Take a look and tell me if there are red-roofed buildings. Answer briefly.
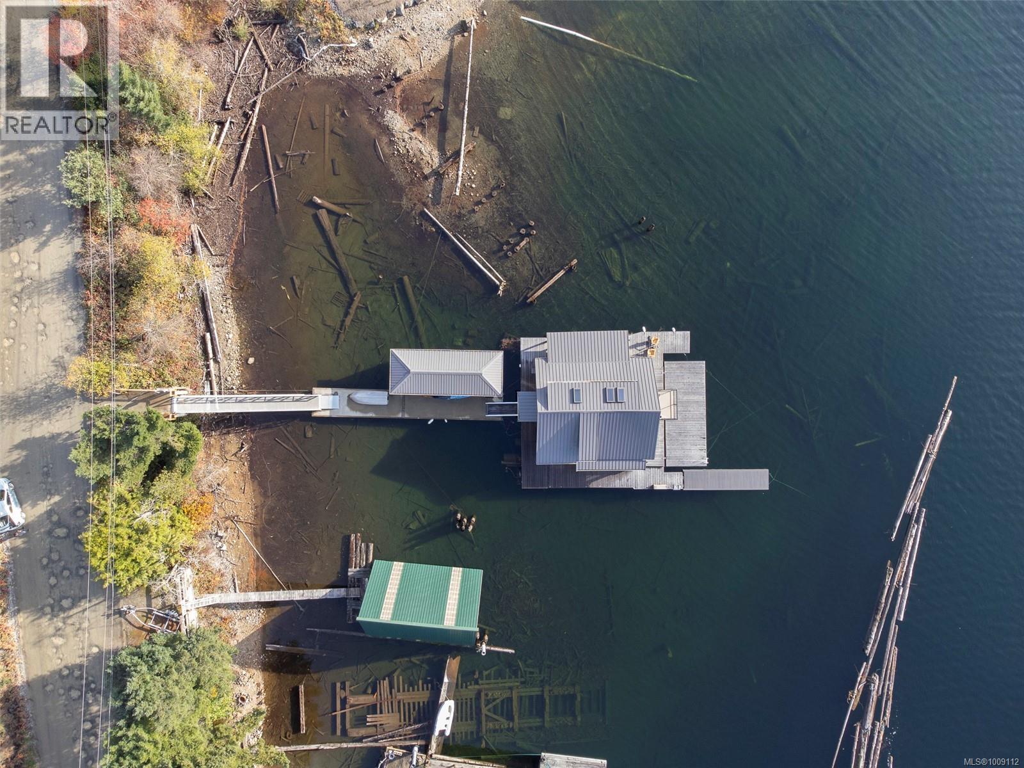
No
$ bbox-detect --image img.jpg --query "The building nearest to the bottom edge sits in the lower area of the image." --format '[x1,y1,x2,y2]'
[356,560,485,647]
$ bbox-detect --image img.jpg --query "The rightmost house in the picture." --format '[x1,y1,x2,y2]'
[517,329,690,490]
